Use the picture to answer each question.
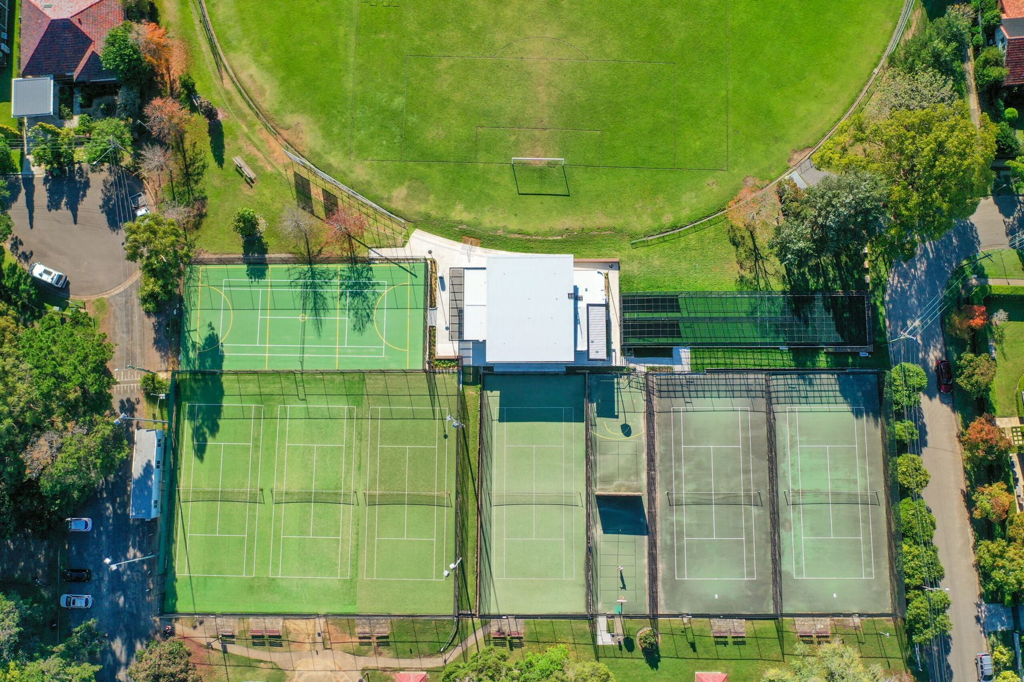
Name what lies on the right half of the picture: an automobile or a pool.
automobile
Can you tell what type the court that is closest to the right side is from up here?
tennis court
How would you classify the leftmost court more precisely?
tennis court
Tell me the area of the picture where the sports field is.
top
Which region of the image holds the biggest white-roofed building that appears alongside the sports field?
center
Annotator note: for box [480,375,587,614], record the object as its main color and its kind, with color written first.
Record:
green tennis court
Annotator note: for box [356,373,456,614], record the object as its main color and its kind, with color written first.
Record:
green tennis court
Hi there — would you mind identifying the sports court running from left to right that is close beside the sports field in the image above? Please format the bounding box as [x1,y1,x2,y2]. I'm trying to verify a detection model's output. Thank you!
[180,262,426,371]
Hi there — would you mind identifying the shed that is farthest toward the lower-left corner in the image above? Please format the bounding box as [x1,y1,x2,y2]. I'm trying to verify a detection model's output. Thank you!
[130,430,162,520]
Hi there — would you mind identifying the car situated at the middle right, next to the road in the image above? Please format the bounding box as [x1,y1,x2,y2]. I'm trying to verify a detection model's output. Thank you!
[937,359,957,392]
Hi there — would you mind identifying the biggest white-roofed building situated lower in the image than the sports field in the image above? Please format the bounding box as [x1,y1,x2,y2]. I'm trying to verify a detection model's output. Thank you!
[450,254,609,372]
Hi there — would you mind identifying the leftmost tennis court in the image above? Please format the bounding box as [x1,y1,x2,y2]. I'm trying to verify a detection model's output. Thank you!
[164,373,271,614]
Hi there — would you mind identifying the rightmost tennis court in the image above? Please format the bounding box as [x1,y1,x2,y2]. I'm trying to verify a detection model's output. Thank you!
[773,374,892,613]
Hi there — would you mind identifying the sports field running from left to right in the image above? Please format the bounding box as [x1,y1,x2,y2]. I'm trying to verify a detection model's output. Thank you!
[209,0,909,240]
